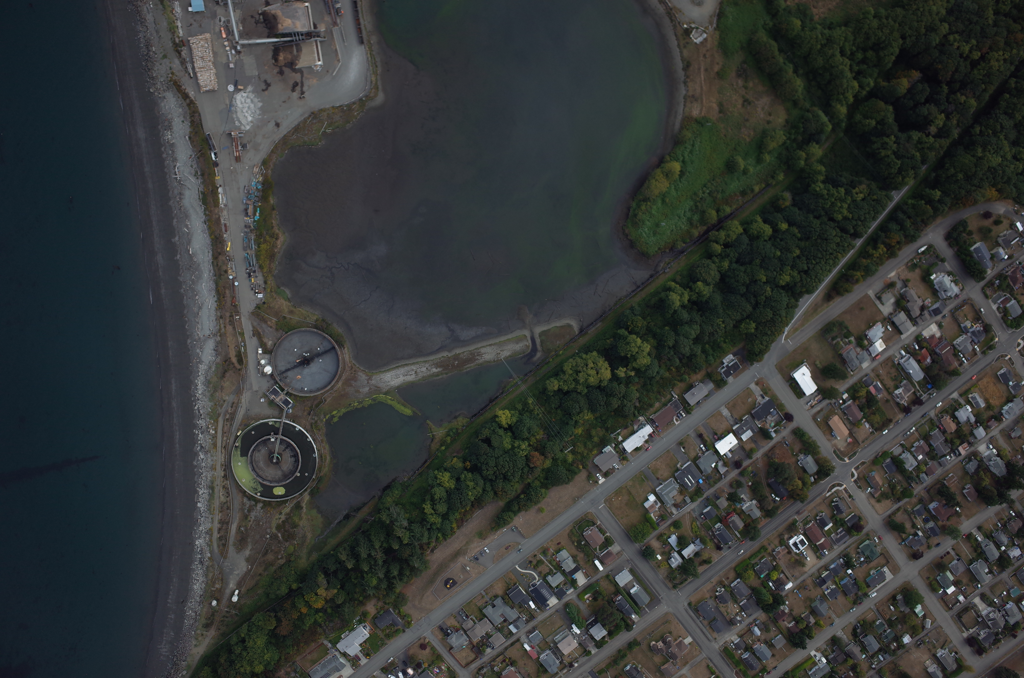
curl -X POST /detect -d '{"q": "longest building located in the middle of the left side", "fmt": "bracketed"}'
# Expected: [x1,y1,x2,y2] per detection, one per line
[263,385,292,409]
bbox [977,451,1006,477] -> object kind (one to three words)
house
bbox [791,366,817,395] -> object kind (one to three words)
house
